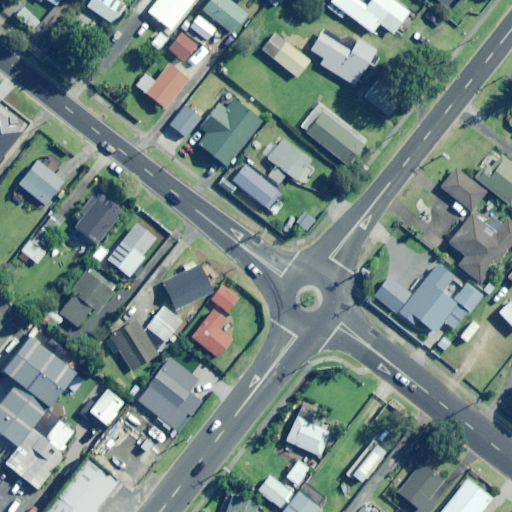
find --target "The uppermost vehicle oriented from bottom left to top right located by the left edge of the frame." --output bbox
[4,337,18,354]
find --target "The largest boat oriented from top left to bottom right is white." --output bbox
[146,426,166,442]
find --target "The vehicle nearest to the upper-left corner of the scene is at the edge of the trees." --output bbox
[110,30,124,44]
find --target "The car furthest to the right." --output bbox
[494,286,508,302]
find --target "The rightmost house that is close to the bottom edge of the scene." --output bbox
[440,476,493,512]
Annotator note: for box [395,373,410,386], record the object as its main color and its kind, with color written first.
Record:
white vehicle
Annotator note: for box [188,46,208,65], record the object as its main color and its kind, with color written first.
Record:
white camper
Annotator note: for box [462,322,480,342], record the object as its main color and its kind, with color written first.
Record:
white camper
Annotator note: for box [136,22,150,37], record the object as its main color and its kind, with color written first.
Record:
white vehicle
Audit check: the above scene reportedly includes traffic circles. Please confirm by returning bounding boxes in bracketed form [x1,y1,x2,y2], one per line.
[262,227,366,366]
